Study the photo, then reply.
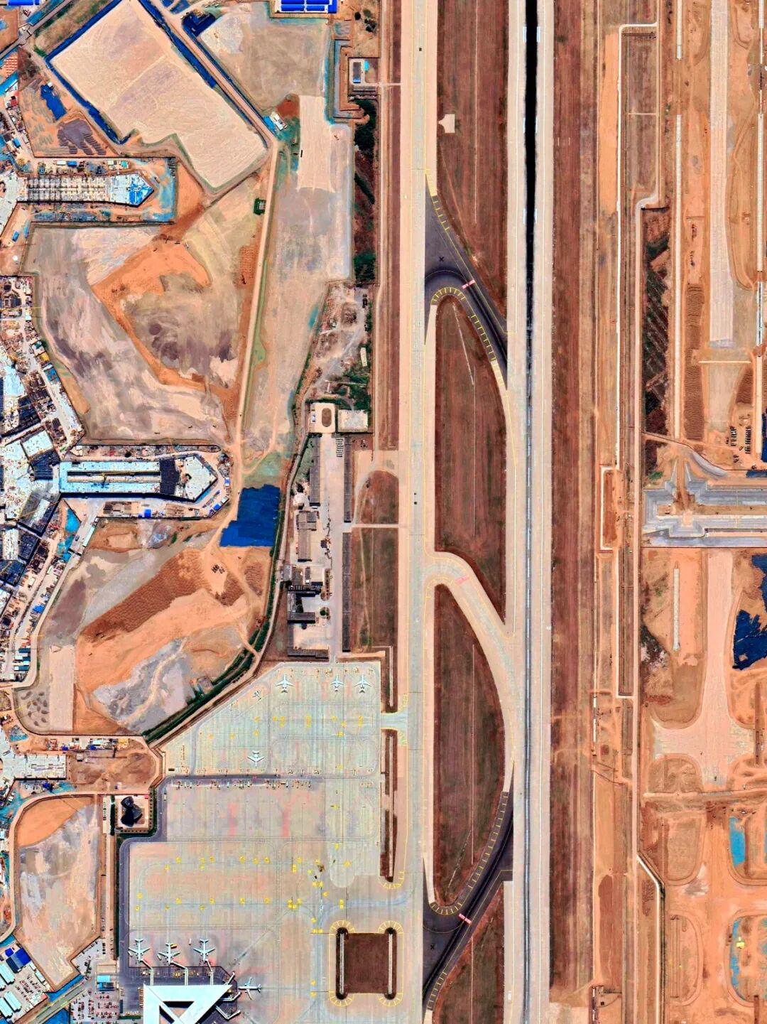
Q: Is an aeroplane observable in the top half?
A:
No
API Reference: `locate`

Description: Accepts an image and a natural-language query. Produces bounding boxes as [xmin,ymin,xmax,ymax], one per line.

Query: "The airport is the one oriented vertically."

[119,0,554,1024]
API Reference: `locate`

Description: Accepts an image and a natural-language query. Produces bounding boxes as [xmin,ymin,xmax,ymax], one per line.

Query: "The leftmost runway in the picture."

[504,0,554,1024]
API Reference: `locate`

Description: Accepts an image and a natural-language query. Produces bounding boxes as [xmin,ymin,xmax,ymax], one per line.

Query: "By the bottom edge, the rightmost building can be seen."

[142,986,231,1024]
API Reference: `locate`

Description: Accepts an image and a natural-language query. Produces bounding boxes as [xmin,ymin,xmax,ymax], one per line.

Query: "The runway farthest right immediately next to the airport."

[710,0,733,340]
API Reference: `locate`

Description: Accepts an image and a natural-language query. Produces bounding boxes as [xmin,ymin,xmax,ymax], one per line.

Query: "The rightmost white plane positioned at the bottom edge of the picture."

[239,977,262,999]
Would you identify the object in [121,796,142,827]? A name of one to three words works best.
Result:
building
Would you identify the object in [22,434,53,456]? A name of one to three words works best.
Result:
building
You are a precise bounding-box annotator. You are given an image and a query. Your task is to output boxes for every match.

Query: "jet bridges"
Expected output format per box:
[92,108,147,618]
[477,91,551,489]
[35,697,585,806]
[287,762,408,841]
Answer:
[140,959,153,986]
[205,959,213,986]
[171,960,187,986]
[221,992,241,1002]
[214,1005,242,1021]
[225,972,235,986]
